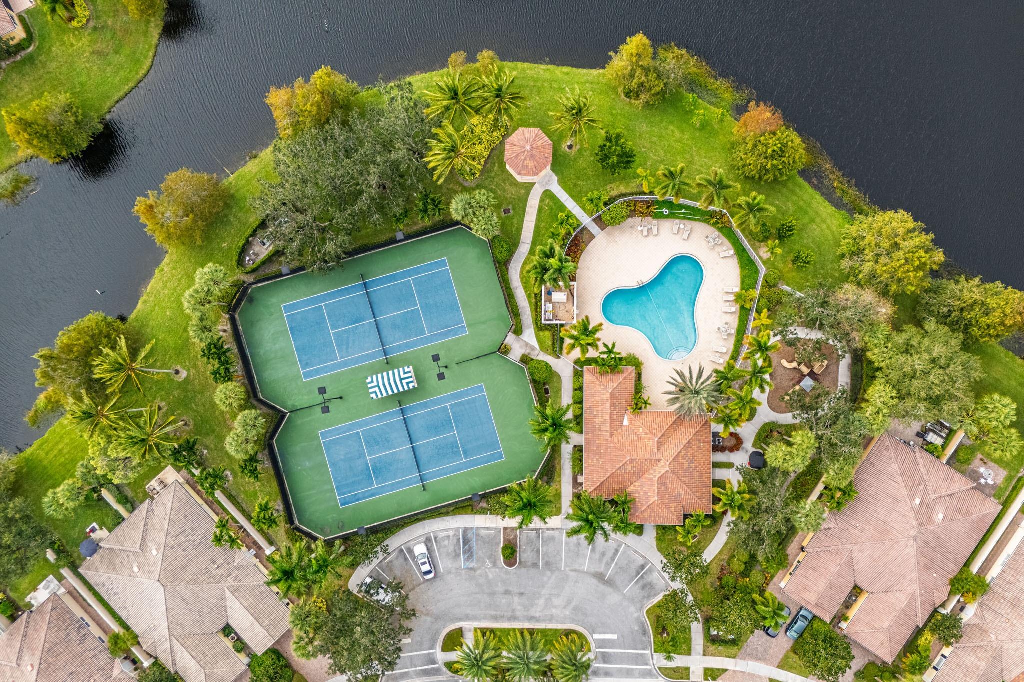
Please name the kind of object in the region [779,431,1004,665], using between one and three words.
house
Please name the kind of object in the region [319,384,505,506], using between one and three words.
tennis court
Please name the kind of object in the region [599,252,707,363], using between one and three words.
swimming pool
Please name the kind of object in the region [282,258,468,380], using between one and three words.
tennis court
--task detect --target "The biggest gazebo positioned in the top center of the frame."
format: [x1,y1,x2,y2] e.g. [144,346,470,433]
[504,128,552,180]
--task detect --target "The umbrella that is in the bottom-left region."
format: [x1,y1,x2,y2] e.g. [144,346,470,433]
[81,538,101,557]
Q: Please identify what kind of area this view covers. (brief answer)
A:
residential area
